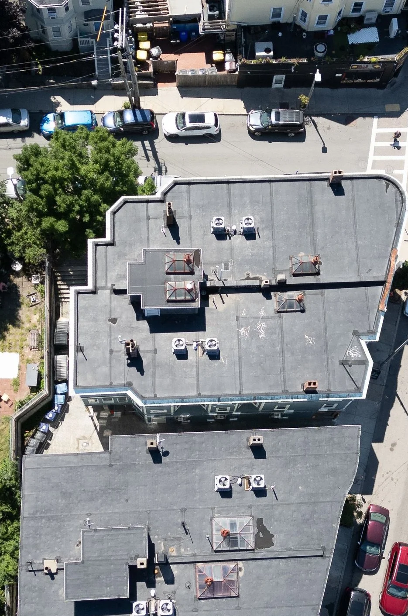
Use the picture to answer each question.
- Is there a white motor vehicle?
Yes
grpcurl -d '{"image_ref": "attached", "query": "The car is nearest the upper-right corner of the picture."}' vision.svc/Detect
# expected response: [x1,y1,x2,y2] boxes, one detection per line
[243,108,309,142]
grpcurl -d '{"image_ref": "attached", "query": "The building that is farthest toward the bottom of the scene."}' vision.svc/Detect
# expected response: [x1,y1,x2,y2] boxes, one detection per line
[17,424,361,616]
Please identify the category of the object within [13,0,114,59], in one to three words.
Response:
house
